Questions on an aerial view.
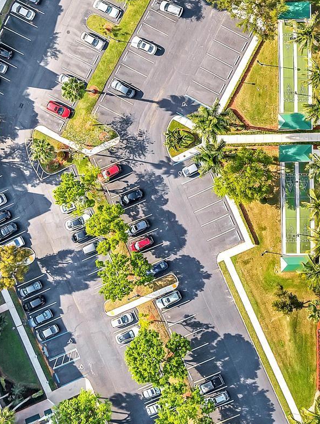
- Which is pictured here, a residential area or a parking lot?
parking lot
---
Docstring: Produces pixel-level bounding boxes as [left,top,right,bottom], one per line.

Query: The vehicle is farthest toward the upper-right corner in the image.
[156,0,187,20]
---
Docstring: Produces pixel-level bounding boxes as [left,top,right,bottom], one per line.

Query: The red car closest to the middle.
[129,234,155,252]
